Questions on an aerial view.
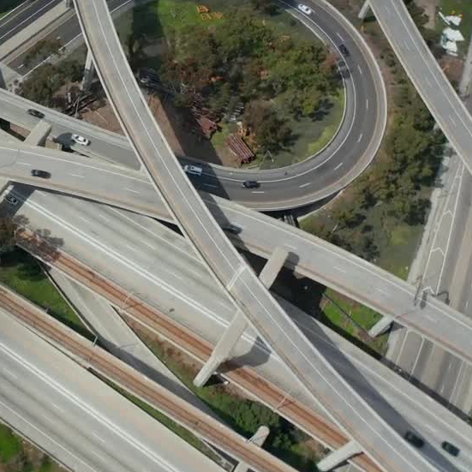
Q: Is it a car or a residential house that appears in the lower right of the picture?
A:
car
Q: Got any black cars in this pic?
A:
Yes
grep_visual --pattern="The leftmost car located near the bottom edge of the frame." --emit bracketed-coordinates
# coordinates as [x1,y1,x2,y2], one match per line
[402,429,428,448]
